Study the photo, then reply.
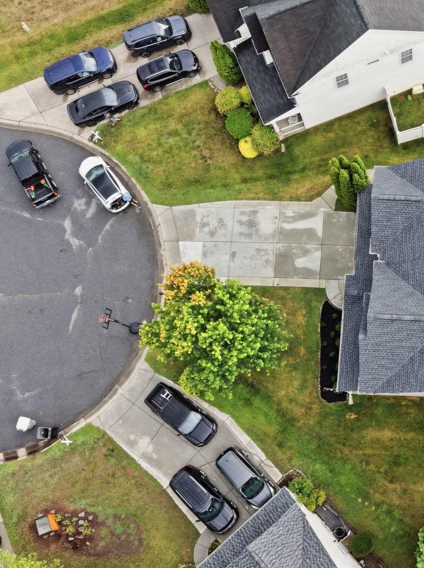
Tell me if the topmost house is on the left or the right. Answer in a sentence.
The topmost house sits on the right side.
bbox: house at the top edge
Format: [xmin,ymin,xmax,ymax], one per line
[206,0,424,140]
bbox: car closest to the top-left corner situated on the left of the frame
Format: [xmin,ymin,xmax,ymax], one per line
[46,49,117,95]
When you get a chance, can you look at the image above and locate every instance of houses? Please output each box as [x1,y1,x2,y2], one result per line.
[198,485,360,568]
[206,0,424,140]
[336,157,424,398]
